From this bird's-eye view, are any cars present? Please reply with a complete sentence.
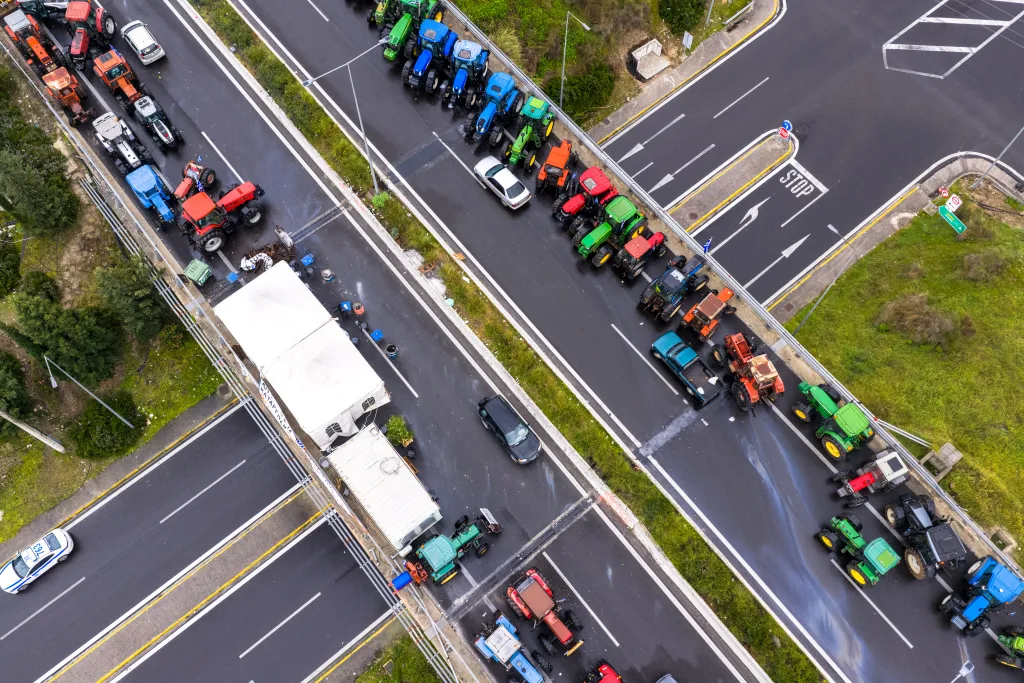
Yes, the photo shows a car.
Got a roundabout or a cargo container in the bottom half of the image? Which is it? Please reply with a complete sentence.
It is a cargo container that can be seen in the bottom half of the image.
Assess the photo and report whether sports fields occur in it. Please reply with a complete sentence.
No, the photo shows no sports field.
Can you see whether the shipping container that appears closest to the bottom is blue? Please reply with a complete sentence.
No, from above the shipping container that appears closest to the bottom looks white.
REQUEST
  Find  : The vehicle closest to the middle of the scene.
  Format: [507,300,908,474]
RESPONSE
[475,392,541,466]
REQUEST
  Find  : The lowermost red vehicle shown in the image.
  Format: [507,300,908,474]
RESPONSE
[579,657,629,683]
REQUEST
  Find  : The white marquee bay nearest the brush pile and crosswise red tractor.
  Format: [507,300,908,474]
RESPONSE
[215,261,329,367]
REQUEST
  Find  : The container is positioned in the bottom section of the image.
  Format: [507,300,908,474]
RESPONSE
[327,422,444,561]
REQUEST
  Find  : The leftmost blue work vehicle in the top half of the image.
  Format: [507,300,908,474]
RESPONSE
[129,168,182,235]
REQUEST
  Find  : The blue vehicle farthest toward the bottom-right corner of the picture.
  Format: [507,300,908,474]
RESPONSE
[933,554,1024,641]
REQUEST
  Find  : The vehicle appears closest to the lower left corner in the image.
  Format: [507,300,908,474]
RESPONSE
[0,529,76,593]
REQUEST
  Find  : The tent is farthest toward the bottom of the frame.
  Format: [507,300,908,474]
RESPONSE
[261,321,391,455]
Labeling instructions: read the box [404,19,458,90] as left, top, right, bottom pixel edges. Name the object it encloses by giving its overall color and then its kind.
blue work vehicle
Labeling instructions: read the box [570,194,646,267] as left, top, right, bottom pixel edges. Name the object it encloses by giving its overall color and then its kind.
green work vehicle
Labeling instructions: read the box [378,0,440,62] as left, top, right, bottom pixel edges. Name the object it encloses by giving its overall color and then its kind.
green work vehicle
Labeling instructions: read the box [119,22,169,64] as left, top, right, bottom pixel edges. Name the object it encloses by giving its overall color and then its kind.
white car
